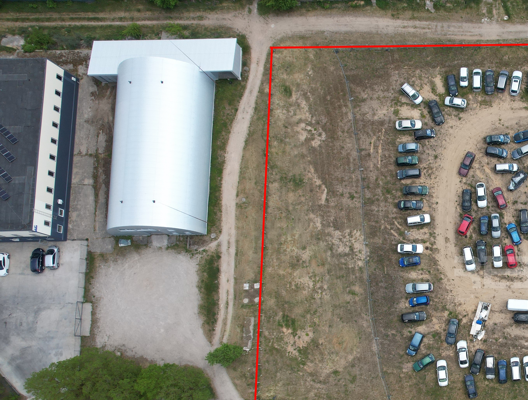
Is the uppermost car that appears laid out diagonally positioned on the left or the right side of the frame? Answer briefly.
right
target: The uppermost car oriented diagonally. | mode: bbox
[401,82,422,104]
